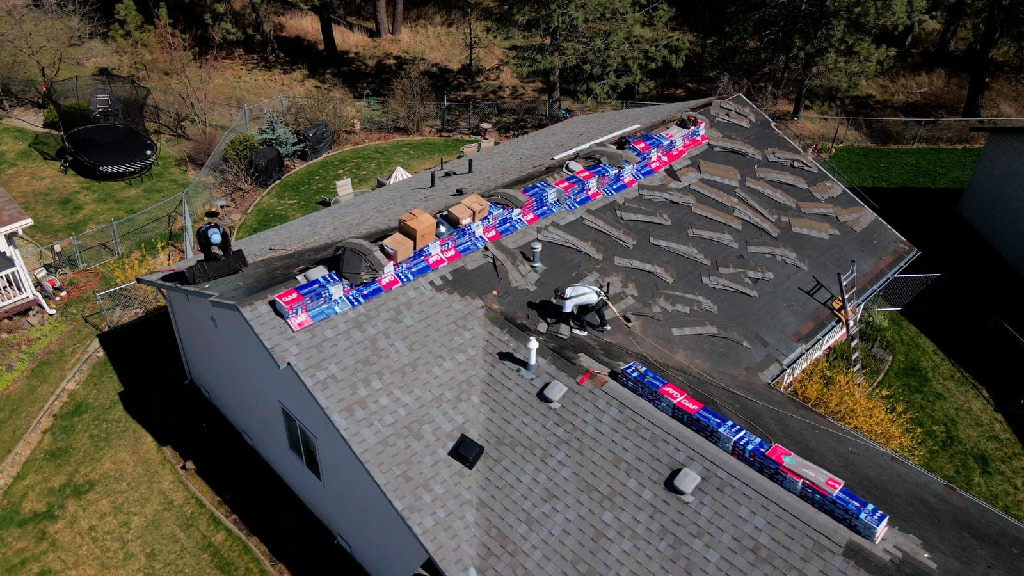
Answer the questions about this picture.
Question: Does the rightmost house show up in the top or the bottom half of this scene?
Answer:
top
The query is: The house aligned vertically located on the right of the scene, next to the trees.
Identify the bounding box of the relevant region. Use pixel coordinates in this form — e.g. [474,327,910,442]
[961,123,1024,279]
